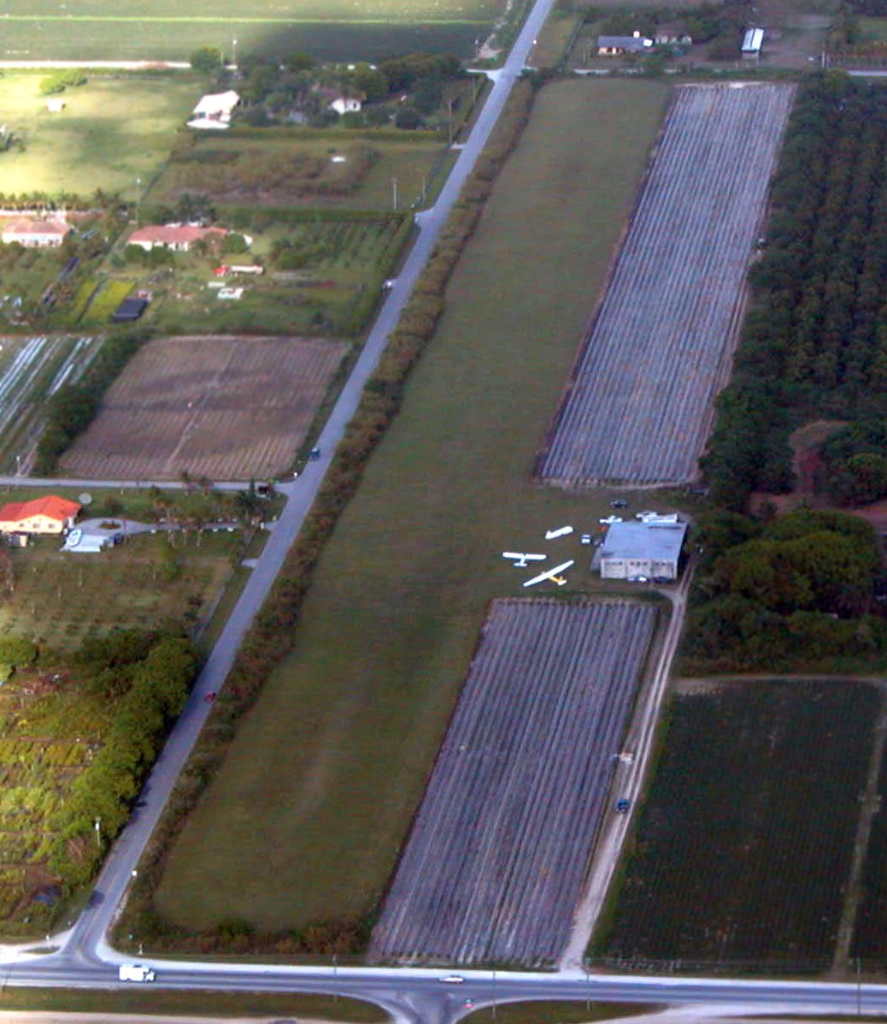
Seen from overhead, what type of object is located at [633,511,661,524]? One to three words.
vehicle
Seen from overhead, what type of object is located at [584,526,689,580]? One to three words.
hangar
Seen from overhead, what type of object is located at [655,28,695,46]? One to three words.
house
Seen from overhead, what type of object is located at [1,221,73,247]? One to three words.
house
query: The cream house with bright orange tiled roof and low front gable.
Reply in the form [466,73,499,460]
[0,495,87,536]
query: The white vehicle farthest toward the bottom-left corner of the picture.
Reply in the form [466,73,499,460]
[118,962,156,982]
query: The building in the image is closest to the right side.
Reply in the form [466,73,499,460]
[740,30,764,58]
